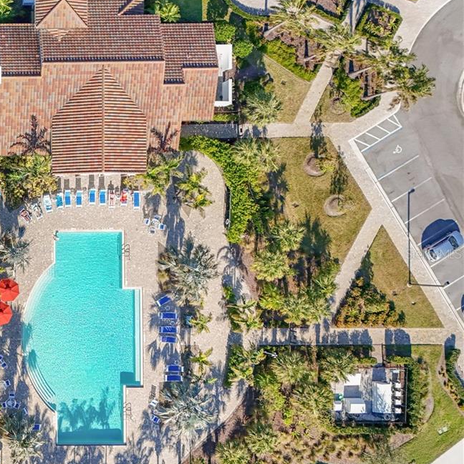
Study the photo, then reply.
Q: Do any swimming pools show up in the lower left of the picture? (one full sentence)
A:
Yes, a swimming pool is visible in the lower left of the picture.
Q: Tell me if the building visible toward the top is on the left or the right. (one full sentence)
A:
The building visible toward the top sits on the left side.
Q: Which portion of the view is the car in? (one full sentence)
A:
The car is located in the right region of the scene.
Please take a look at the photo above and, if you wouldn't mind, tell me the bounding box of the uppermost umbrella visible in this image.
[0,278,19,302]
